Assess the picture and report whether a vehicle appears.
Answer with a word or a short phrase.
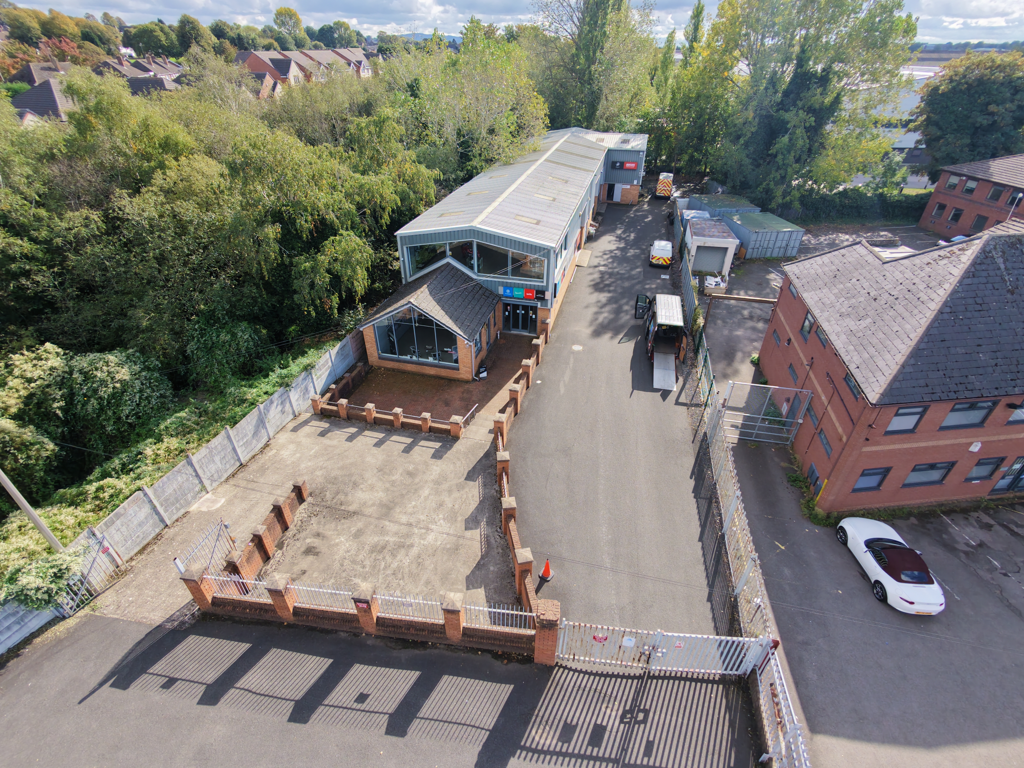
Yes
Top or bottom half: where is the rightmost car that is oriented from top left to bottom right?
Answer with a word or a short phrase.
bottom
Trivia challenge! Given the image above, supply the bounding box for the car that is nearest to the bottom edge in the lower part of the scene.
[842,519,949,618]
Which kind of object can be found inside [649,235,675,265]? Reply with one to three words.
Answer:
vehicle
